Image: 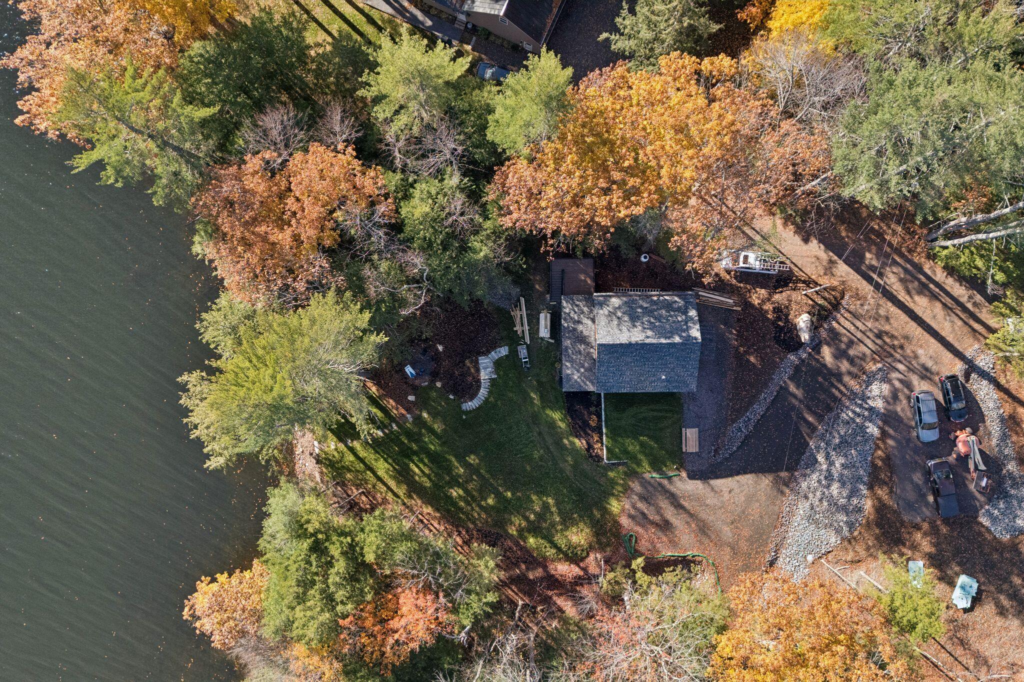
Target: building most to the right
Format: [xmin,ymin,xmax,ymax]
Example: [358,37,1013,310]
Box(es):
[561,288,704,394]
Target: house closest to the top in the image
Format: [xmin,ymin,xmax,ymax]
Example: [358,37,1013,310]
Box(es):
[434,0,568,60]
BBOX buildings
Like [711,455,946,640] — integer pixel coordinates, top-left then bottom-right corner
[434,0,568,60]
[561,288,704,394]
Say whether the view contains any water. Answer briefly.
Yes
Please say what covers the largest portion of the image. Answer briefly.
trees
